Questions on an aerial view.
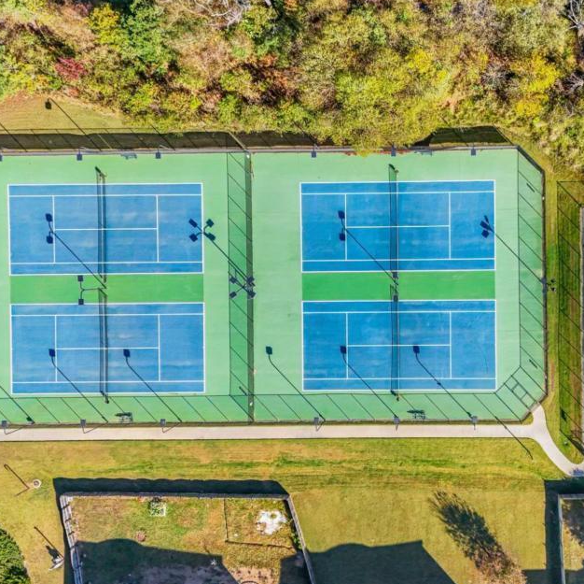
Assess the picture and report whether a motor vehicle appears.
No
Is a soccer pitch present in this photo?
No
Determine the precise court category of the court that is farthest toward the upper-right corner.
tennis court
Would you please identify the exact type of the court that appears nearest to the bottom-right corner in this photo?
tennis court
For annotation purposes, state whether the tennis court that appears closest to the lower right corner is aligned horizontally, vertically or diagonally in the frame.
horizontally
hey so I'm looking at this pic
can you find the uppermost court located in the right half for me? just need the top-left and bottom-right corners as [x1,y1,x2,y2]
[301,180,495,272]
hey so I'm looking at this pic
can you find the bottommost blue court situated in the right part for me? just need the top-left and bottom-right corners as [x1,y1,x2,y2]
[302,300,498,392]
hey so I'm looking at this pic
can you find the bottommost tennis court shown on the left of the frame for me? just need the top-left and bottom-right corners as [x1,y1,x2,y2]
[10,303,206,395]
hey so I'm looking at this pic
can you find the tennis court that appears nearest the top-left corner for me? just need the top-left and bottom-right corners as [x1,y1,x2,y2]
[9,184,203,275]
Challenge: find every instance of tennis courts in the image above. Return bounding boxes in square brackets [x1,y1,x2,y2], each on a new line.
[10,303,206,395]
[9,184,203,275]
[301,180,495,272]
[302,300,498,392]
